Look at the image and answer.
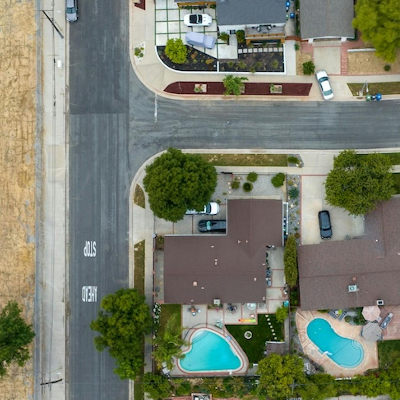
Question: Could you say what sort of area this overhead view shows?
residential area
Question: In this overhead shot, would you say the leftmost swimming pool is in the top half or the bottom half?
bottom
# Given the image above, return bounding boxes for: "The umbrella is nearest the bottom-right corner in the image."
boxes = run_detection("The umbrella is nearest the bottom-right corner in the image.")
[365,323,382,340]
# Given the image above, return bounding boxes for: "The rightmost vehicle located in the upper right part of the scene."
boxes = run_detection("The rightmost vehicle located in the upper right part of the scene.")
[316,70,333,101]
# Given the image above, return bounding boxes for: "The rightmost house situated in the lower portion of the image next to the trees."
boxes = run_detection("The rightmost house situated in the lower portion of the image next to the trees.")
[297,196,400,310]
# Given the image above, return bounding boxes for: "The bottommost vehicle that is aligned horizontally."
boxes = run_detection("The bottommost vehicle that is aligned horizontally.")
[199,219,226,233]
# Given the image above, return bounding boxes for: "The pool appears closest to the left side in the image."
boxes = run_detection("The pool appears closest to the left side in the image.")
[177,327,243,374]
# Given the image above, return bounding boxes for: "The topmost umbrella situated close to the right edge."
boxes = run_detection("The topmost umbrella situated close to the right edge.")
[364,307,381,322]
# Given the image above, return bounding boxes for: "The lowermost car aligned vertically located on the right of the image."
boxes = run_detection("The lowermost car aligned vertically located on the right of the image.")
[319,211,332,240]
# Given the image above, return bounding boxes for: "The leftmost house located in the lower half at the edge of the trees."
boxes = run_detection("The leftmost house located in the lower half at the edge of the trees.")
[164,199,284,304]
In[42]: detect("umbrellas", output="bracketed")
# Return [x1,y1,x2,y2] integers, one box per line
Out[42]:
[364,307,381,322]
[365,323,382,340]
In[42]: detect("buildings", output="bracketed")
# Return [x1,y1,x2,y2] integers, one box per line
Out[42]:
[175,0,286,29]
[164,199,284,304]
[297,196,400,310]
[301,0,370,43]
